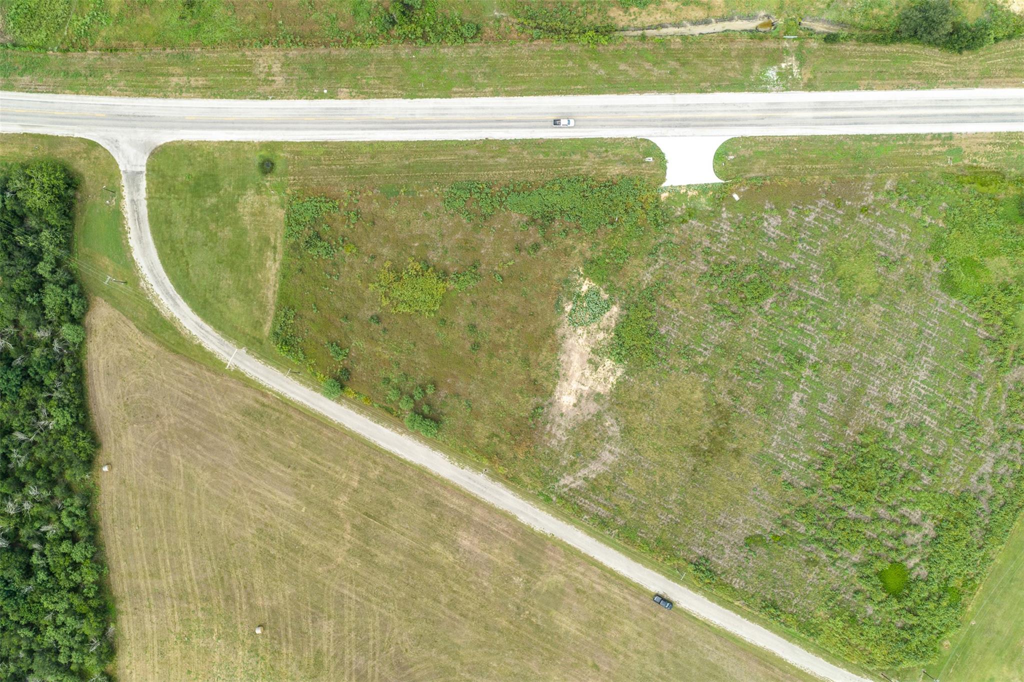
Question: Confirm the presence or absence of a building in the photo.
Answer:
No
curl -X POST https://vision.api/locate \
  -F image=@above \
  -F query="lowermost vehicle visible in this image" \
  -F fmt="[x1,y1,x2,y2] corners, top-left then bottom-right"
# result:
[651,593,673,609]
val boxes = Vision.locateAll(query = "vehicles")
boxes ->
[552,118,575,127]
[651,593,673,609]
